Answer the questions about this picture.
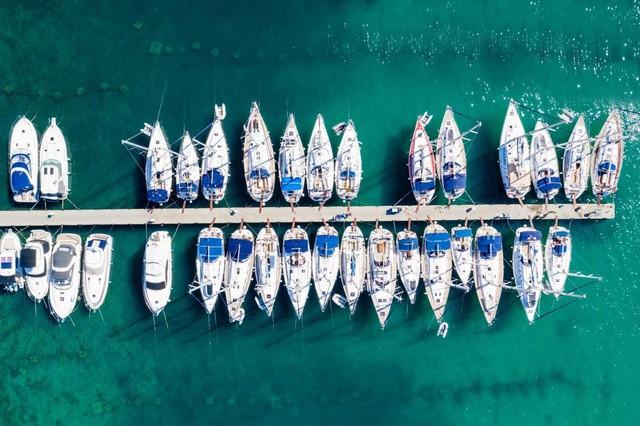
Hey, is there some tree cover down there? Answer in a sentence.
No, the scene doesn't show any tree cover.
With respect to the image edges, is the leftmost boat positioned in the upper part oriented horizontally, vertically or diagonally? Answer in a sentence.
The leftmost boat positioned in the upper part runs vertically in the image.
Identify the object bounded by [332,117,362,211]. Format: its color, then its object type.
white boat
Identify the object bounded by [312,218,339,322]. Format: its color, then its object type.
white boat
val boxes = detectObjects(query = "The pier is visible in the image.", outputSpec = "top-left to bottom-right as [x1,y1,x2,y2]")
[0,202,614,226]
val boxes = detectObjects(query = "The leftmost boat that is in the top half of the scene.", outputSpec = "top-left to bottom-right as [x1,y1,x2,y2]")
[7,114,43,211]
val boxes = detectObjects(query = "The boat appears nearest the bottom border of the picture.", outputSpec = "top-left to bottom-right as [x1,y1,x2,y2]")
[437,323,449,340]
